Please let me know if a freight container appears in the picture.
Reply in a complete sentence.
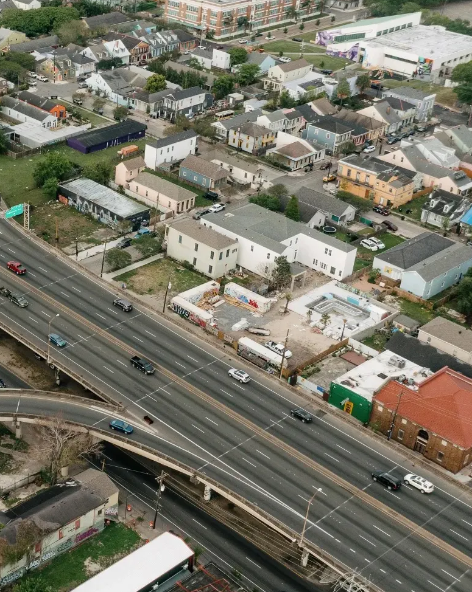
Yes, a freight container appears in the view.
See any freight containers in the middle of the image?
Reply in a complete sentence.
Yes, looking in the middle of the image, one can make out a freight container.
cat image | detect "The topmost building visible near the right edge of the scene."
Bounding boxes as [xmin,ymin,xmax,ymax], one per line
[307,0,472,84]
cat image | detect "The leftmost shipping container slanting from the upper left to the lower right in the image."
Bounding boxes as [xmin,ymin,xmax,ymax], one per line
[170,298,209,334]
